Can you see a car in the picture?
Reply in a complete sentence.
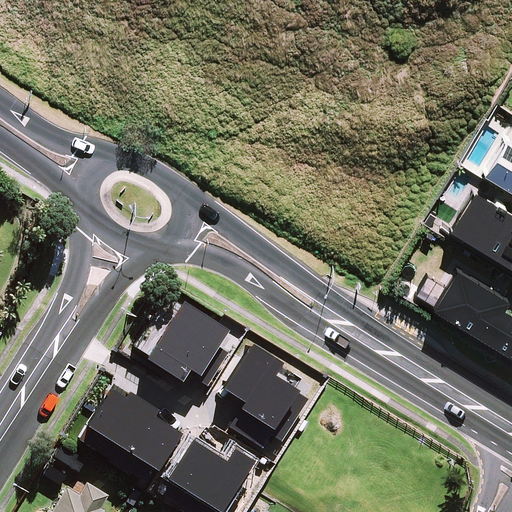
Yes, the image includes a car.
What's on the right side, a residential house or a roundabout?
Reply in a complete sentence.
Looking on the right side, you will find a residential house.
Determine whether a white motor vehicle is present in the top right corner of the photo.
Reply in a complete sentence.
No, no white motor vehicle appears in the top right corner of the photo.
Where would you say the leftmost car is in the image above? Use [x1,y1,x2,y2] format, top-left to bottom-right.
[8,362,28,388]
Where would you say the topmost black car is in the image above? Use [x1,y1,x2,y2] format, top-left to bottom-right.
[196,202,222,224]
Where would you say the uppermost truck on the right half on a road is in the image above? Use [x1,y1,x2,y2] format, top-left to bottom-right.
[322,324,352,350]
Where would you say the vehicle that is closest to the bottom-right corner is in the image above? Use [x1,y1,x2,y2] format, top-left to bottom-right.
[442,400,468,420]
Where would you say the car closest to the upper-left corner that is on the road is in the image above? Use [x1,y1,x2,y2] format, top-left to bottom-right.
[70,136,96,154]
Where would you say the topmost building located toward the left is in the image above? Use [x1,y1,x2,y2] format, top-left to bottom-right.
[149,295,230,384]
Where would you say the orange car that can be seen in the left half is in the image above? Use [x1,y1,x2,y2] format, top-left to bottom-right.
[38,392,60,417]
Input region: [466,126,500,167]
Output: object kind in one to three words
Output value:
swimming pool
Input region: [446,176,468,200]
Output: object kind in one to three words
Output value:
swimming pool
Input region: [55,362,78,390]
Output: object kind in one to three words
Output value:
truck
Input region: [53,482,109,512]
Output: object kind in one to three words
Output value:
house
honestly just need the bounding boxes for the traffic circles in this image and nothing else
[100,170,172,232]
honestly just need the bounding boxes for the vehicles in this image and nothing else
[442,400,468,420]
[8,362,28,388]
[70,136,96,154]
[196,202,222,224]
[38,392,60,417]
[160,406,182,424]
[322,324,352,350]
[55,362,78,390]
